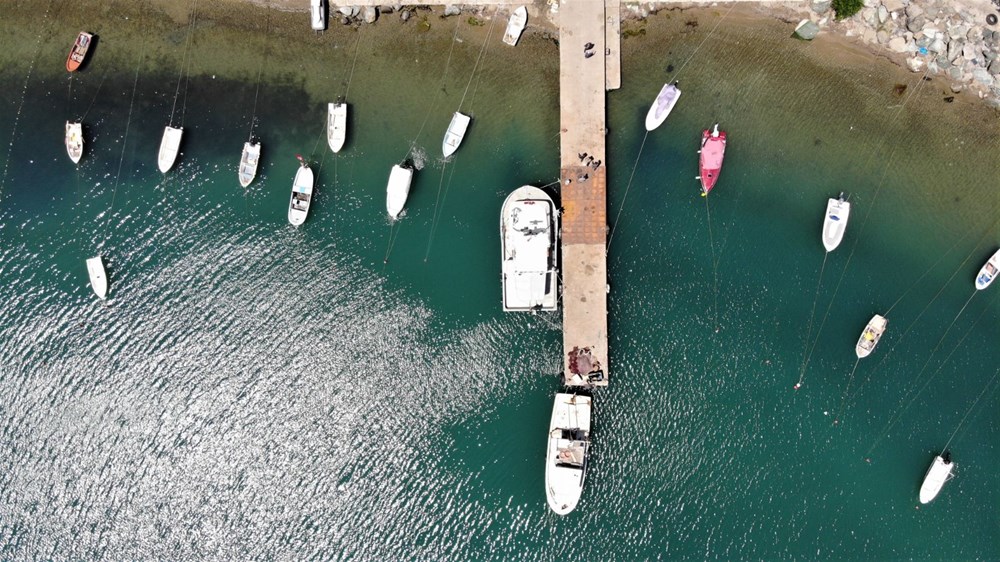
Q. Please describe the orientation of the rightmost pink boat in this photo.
from top to bottom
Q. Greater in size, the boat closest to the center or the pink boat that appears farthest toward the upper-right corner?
the boat closest to the center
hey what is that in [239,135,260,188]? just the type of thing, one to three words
boat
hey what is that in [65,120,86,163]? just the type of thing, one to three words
boat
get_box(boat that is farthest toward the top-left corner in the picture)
[68,31,94,71]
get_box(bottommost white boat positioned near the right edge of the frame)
[919,448,953,504]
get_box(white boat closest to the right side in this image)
[975,250,1000,290]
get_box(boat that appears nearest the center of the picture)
[500,185,562,314]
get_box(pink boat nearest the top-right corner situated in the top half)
[698,119,725,194]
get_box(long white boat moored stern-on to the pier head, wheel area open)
[545,392,593,516]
